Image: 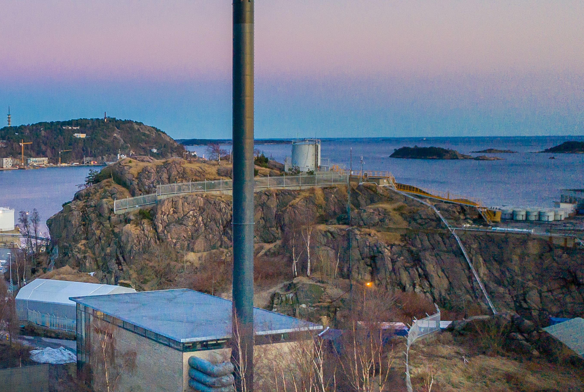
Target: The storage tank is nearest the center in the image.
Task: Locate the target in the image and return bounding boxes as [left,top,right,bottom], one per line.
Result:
[291,138,323,169]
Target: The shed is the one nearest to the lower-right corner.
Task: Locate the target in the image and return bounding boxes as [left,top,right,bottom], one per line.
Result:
[543,316,584,359]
